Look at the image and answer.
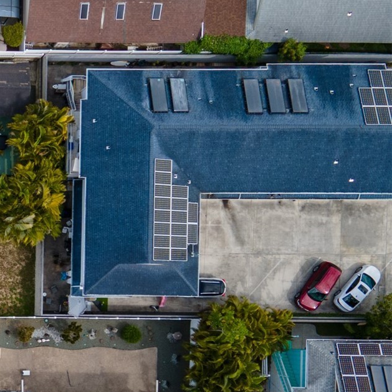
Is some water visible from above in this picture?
No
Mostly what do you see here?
buildings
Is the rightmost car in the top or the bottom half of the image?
bottom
